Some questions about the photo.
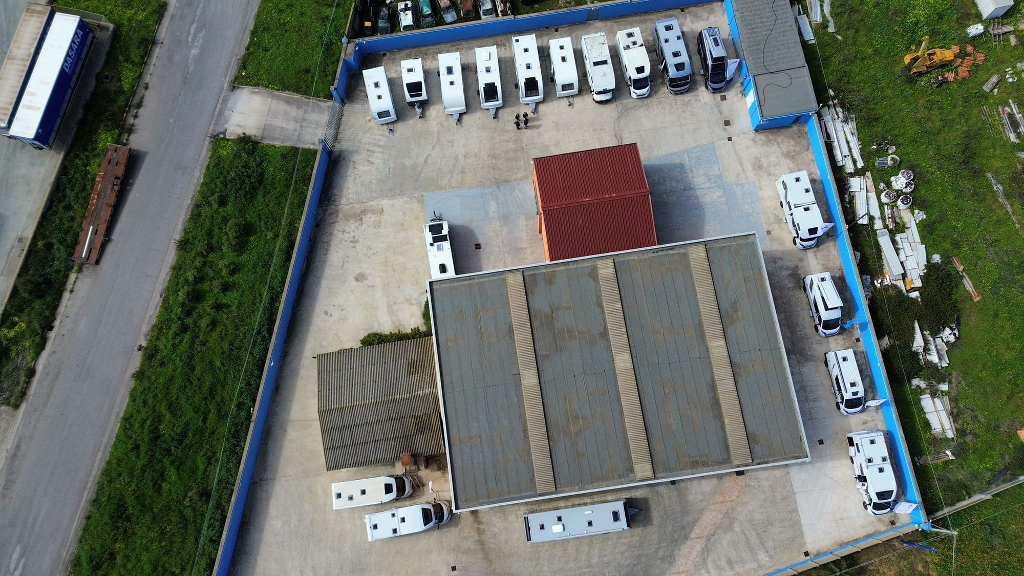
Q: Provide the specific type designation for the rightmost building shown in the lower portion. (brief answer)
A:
warehouse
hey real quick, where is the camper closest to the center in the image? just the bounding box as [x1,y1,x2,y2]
[422,211,457,280]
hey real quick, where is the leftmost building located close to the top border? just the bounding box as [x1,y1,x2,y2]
[722,0,818,131]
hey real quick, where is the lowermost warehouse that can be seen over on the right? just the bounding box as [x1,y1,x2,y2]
[427,233,809,512]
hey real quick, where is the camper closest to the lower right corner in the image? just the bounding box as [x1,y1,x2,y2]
[846,430,899,514]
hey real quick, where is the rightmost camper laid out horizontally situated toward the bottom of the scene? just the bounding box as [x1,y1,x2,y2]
[524,500,644,543]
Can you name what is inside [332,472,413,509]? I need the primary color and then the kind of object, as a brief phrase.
white camper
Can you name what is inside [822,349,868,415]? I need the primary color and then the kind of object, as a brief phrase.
white van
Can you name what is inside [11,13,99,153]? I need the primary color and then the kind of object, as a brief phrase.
white trailer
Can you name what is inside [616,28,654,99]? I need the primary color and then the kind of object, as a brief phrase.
white camper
